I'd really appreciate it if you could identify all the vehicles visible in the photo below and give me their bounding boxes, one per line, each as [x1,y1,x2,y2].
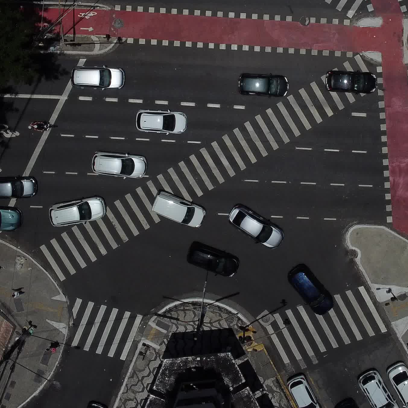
[151,191,208,228]
[387,358,408,408]
[136,108,188,136]
[361,365,401,408]
[288,261,333,315]
[283,370,322,408]
[238,71,288,98]
[92,151,148,181]
[324,68,376,96]
[0,205,25,233]
[71,64,125,92]
[0,173,40,201]
[186,241,241,277]
[49,196,108,226]
[44,120,59,132]
[226,203,286,248]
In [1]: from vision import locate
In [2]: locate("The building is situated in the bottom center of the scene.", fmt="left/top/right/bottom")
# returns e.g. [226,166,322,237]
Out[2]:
[142,329,274,408]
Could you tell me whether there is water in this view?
No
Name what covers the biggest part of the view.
paved ground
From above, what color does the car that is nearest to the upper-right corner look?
black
